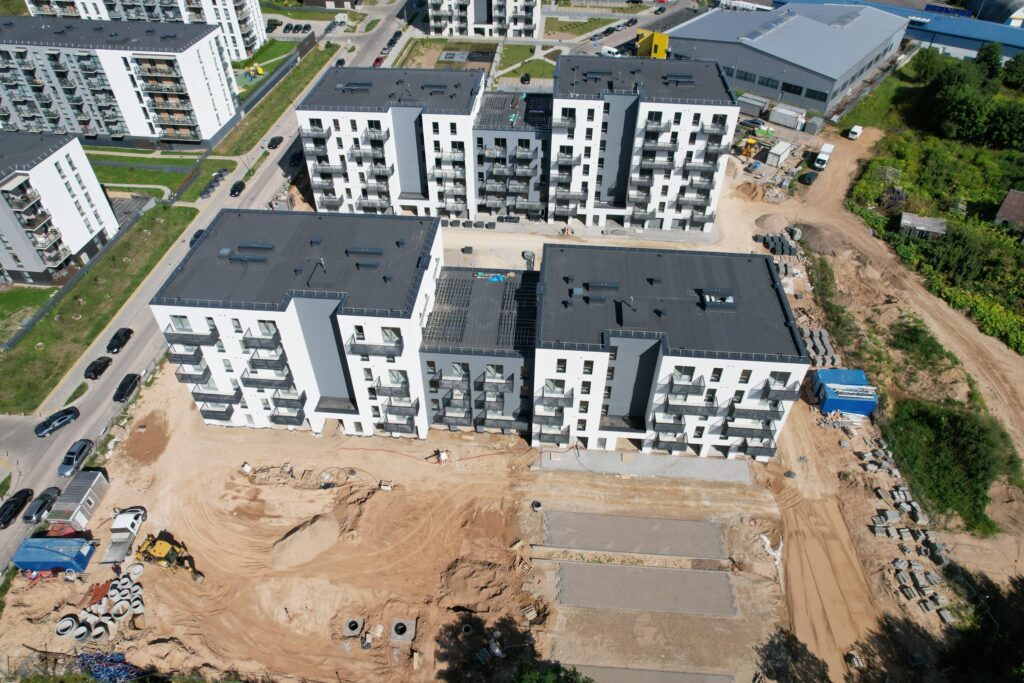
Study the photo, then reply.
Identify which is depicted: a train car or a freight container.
freight container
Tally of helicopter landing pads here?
zero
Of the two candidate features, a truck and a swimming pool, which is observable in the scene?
truck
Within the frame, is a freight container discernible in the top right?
Yes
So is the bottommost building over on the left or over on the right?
left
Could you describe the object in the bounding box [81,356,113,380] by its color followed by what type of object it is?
black car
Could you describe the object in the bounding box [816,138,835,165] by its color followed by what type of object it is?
white vehicle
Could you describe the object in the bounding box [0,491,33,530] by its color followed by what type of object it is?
black car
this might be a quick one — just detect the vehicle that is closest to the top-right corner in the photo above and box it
[848,123,861,139]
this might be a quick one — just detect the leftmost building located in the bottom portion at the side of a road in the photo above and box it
[47,472,111,536]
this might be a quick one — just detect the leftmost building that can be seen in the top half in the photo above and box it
[0,132,118,289]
